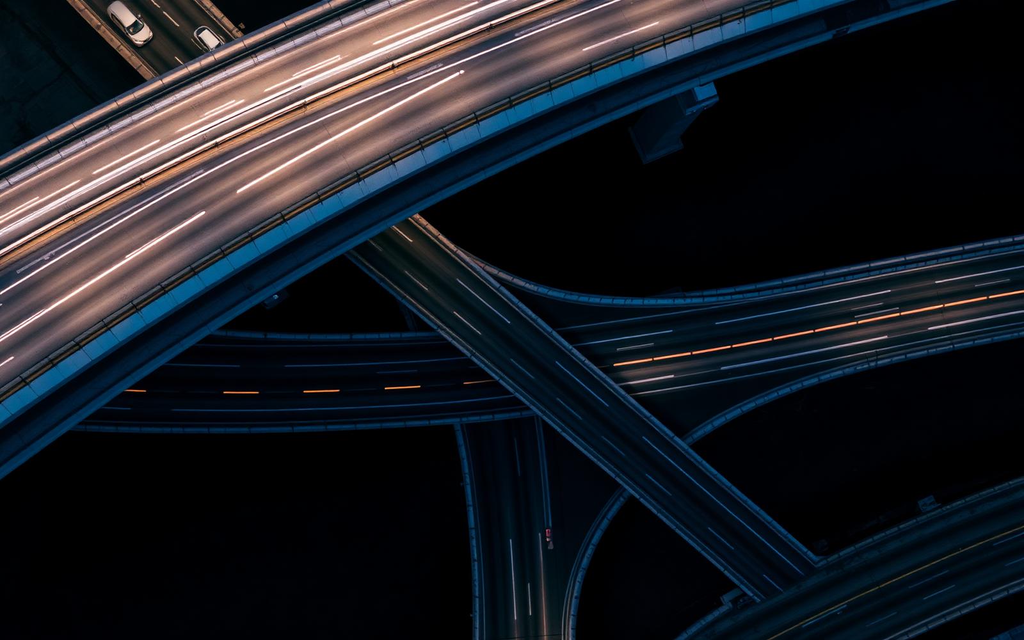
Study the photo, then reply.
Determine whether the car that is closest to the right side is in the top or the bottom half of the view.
top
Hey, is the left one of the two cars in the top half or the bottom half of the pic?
top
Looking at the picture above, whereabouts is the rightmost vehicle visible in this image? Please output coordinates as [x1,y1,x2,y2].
[194,26,226,52]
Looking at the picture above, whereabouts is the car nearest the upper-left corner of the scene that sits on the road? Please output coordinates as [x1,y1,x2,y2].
[108,1,153,46]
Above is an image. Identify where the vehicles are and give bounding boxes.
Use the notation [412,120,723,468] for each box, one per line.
[194,26,226,52]
[108,1,153,46]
